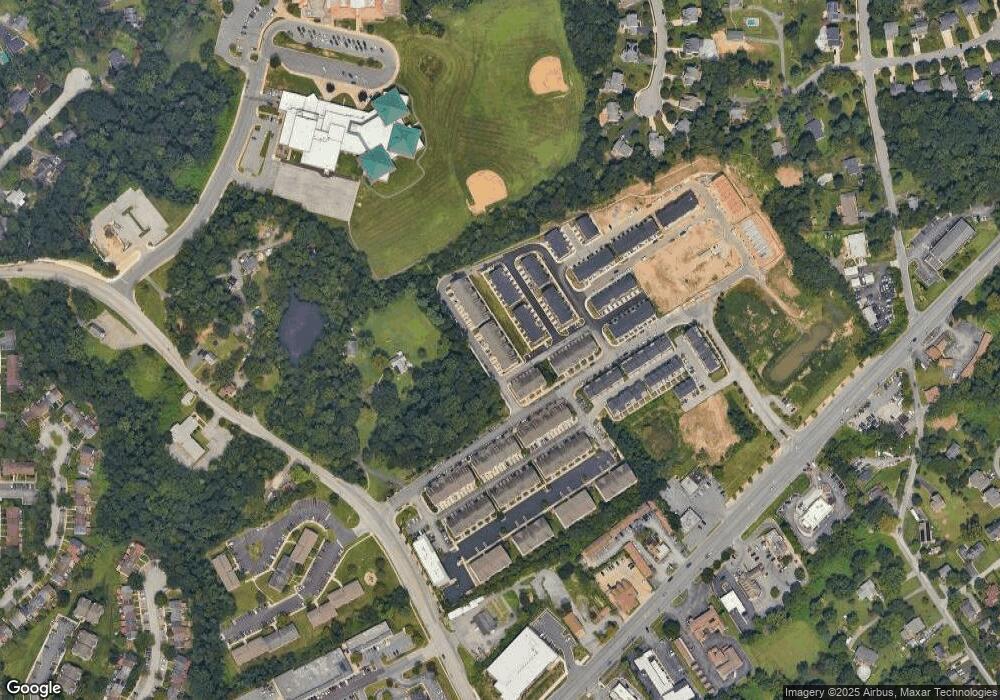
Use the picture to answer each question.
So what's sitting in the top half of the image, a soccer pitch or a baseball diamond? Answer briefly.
baseball diamond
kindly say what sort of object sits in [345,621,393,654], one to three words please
building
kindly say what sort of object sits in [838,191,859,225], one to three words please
house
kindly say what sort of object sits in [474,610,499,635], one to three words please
barn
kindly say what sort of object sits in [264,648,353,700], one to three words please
building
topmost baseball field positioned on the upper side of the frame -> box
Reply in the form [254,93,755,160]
[530,57,572,98]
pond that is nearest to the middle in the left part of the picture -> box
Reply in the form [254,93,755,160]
[279,297,326,364]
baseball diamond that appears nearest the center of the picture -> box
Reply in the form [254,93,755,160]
[466,170,508,217]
